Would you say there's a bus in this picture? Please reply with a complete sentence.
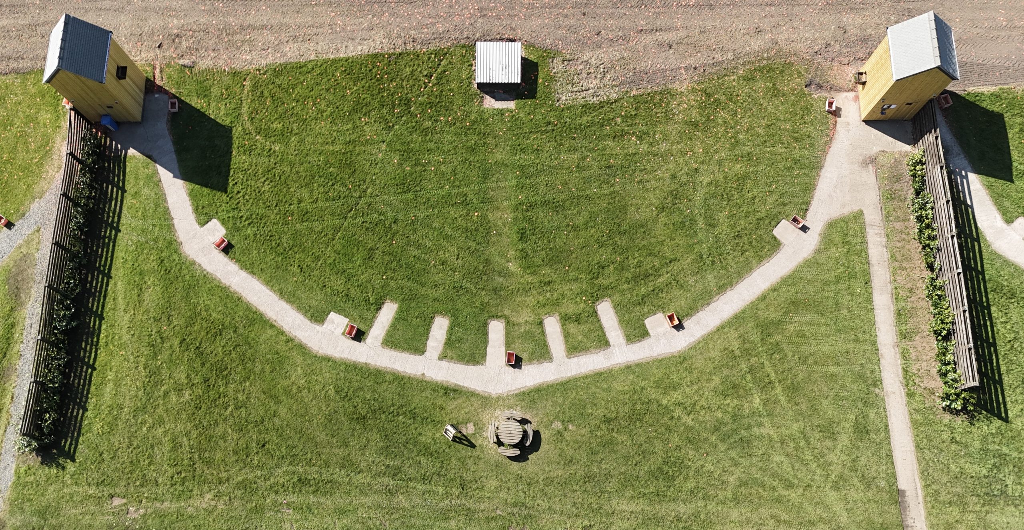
No, I can't see a single bus in this photo.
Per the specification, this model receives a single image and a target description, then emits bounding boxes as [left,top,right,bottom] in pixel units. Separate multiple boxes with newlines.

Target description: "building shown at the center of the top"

[475,41,521,88]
